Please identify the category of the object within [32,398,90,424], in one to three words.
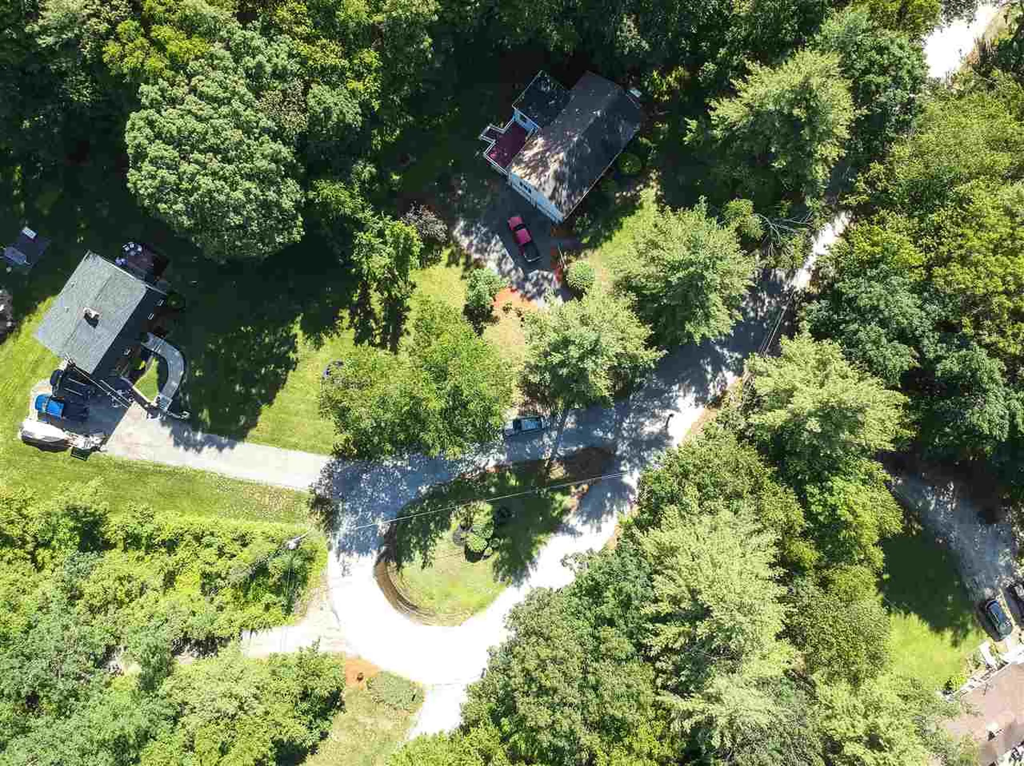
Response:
truck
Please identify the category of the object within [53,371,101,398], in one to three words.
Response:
car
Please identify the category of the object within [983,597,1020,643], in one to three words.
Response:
car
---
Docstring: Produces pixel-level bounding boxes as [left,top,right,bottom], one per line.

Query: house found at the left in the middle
[33,250,166,375]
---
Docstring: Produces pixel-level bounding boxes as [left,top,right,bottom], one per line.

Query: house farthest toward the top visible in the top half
[481,69,643,223]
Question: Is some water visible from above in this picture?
No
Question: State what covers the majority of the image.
trees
